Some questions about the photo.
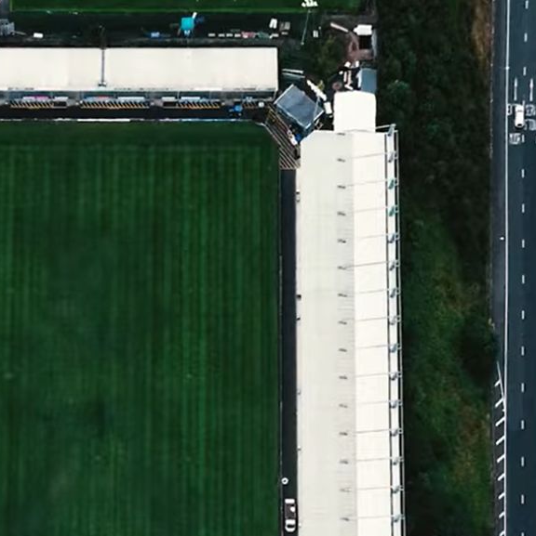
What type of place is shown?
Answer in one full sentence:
This image shows a sports ground.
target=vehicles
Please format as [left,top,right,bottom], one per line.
[353,25,374,34]
[284,500,295,532]
[513,101,524,127]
